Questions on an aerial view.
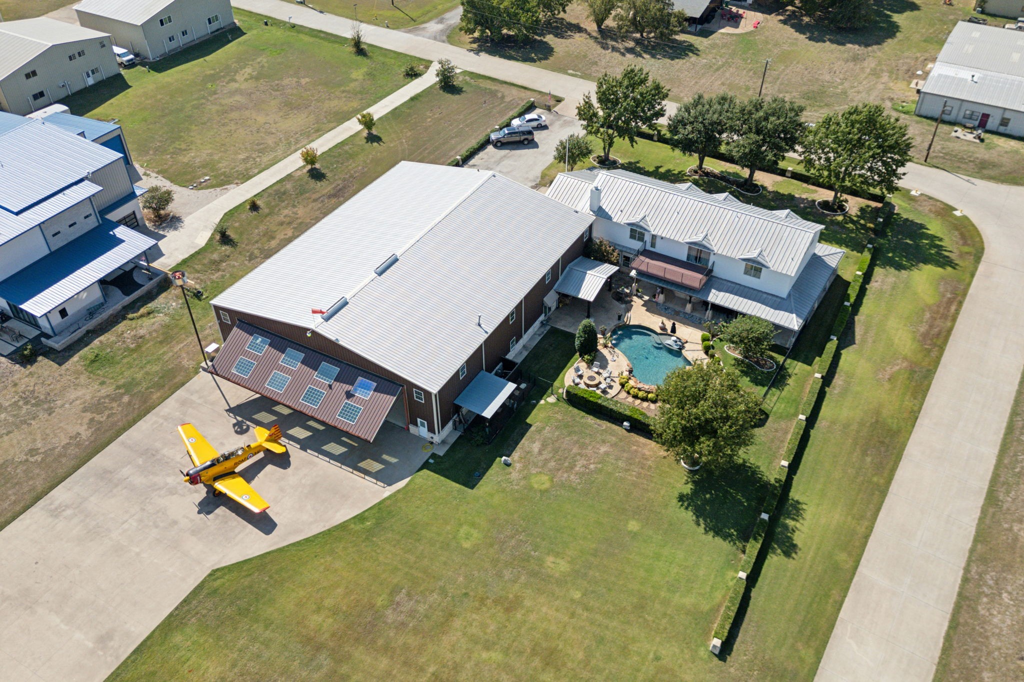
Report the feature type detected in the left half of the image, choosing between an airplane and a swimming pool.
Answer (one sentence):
What appears in the left half of the image is an airplane.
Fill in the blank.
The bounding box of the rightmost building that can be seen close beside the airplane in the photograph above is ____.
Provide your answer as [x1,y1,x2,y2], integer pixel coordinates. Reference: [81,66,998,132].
[204,160,595,450]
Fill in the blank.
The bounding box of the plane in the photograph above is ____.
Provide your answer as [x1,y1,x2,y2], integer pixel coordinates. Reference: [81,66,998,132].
[172,424,288,514]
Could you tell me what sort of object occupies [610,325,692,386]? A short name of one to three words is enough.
swimming pool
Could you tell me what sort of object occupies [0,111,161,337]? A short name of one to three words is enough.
house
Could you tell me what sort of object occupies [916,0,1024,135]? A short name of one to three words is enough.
barn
